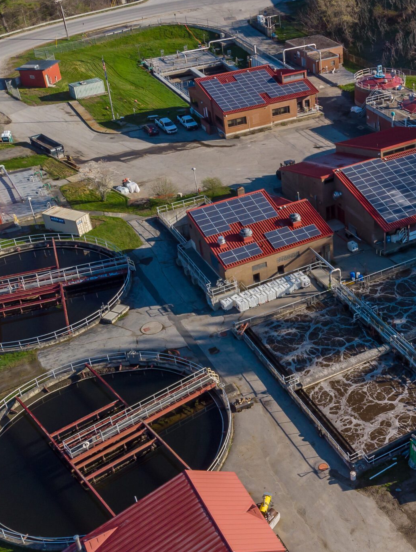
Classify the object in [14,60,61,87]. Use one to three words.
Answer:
building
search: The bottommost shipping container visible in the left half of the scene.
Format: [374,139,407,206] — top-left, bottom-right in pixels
[44,203,91,234]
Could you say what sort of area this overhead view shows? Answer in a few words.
industrial area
